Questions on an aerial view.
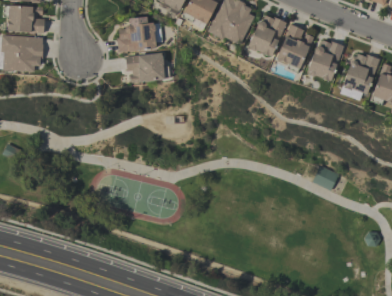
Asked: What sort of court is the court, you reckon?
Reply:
basketball court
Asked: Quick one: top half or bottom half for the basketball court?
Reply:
bottom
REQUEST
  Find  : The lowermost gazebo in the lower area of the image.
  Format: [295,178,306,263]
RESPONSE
[364,230,383,248]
